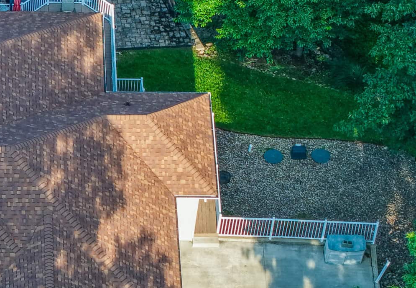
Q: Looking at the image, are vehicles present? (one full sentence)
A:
No, no vehicle is visible in the scene.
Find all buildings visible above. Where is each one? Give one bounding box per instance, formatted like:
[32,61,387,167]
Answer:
[326,228,370,262]
[0,7,223,288]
